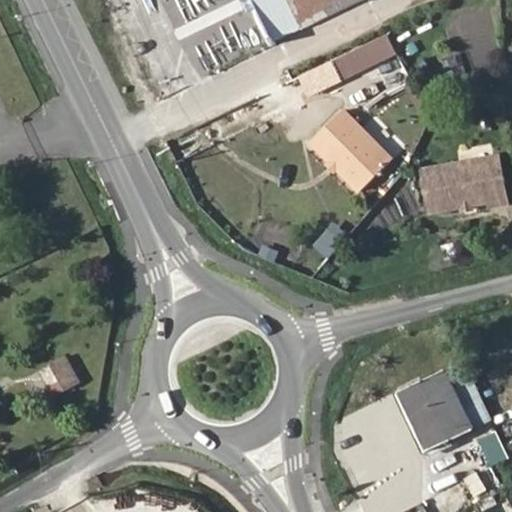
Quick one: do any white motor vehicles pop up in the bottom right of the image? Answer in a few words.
Yes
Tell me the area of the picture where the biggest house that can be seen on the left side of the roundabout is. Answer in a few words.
bottom left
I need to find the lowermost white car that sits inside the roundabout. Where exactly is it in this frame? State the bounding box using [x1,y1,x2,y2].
[194,430,217,448]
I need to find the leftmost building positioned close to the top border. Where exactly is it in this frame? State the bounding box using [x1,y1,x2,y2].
[252,0,302,38]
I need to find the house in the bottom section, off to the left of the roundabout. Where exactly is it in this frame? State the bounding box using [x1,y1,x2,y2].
[49,356,80,391]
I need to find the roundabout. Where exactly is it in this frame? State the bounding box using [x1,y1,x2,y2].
[120,244,334,491]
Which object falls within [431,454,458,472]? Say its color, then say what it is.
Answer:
white vehicle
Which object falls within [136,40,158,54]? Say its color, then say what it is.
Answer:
gray car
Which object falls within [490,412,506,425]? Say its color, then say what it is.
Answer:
white vehicle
